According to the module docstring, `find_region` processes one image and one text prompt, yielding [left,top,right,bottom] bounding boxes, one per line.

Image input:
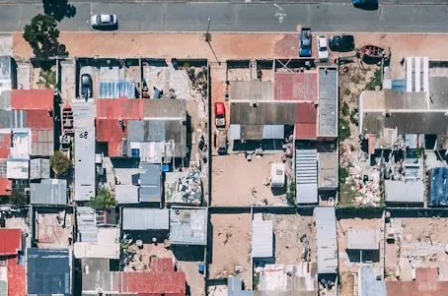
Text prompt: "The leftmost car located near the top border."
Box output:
[90,12,116,26]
